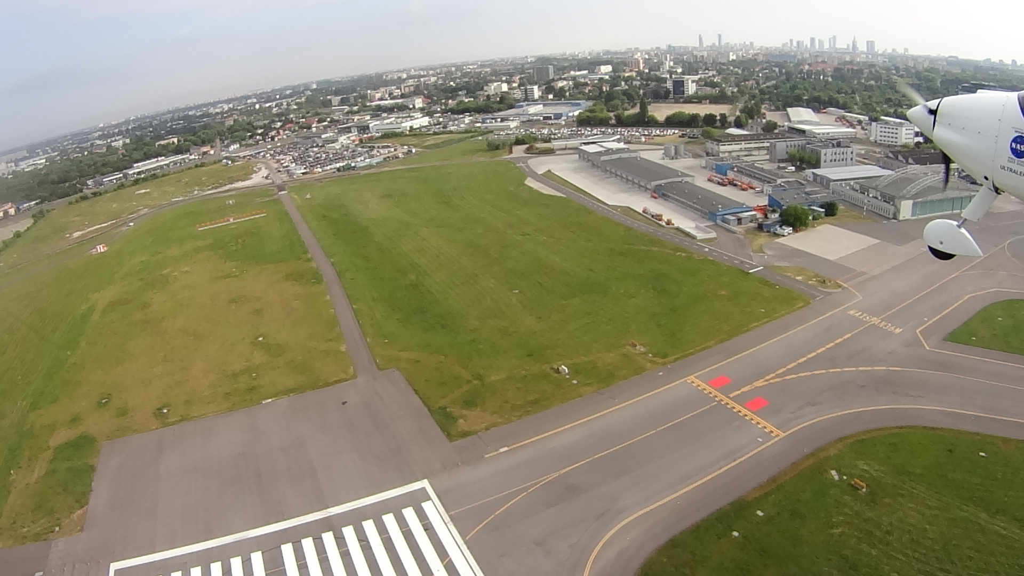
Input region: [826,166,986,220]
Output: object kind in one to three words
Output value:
hangar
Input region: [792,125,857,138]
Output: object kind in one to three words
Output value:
building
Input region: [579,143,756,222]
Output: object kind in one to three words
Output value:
building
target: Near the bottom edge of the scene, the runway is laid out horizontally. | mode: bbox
[76,448,548,576]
